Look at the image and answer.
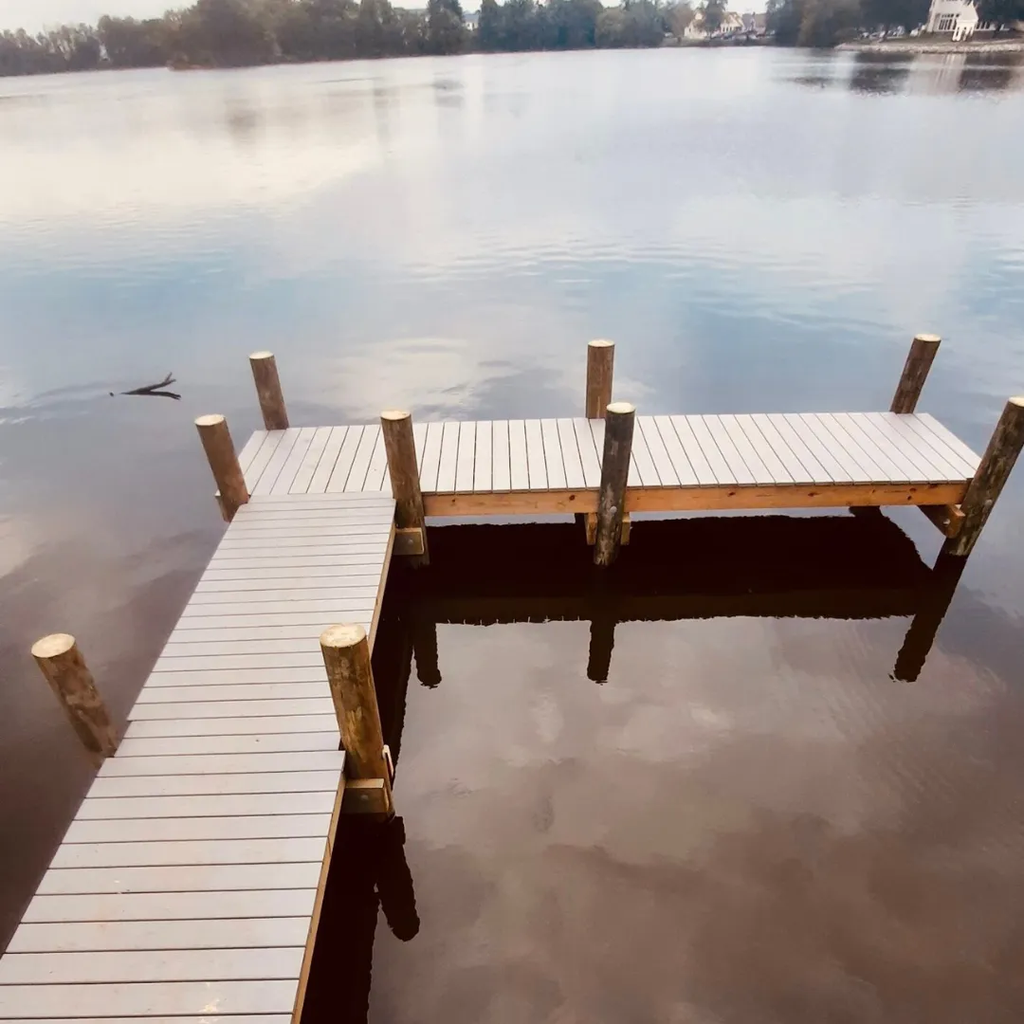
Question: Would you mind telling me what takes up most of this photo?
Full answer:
The scene is dominated by water.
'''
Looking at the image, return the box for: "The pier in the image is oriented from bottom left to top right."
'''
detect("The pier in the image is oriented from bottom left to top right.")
[0,333,1024,1024]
